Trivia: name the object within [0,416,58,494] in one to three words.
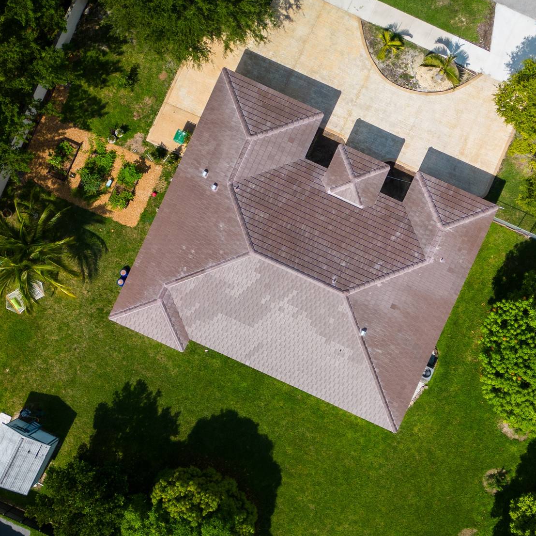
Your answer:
shed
